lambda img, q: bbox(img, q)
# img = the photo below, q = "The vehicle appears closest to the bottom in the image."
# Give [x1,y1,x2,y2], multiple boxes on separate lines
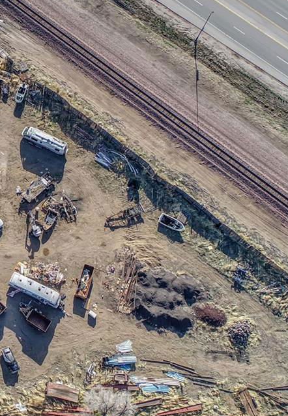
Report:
[2,346,20,376]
